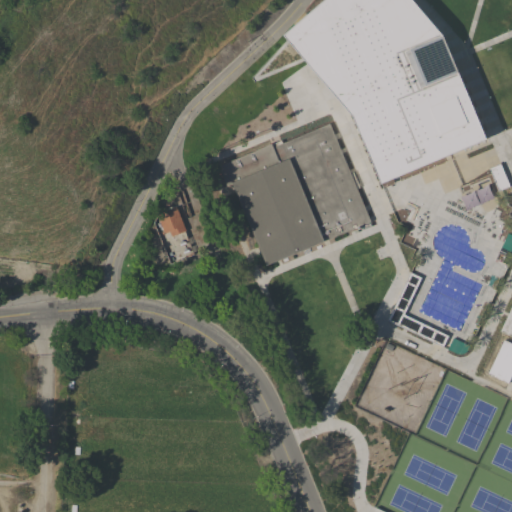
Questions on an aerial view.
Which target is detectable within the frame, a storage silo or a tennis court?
tennis court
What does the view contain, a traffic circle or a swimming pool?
swimming pool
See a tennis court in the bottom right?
Yes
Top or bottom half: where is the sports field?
bottom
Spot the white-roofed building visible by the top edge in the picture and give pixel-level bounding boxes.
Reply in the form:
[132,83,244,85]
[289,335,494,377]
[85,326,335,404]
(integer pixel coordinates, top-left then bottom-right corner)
[285,0,486,184]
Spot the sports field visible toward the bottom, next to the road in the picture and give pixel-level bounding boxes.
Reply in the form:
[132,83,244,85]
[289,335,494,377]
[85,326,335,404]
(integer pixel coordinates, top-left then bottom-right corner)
[71,347,274,512]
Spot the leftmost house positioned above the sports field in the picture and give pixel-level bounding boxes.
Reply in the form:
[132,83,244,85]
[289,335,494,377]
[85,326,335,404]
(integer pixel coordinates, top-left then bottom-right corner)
[158,208,188,238]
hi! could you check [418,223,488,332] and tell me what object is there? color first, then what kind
blue swimming pool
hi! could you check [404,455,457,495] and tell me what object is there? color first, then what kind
blue tennis court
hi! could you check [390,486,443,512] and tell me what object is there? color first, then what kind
blue tennis court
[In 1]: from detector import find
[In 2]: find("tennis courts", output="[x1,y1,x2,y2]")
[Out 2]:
[404,455,457,495]
[390,486,443,512]
[492,443,512,472]
[458,398,498,451]
[426,384,466,436]
[472,486,512,512]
